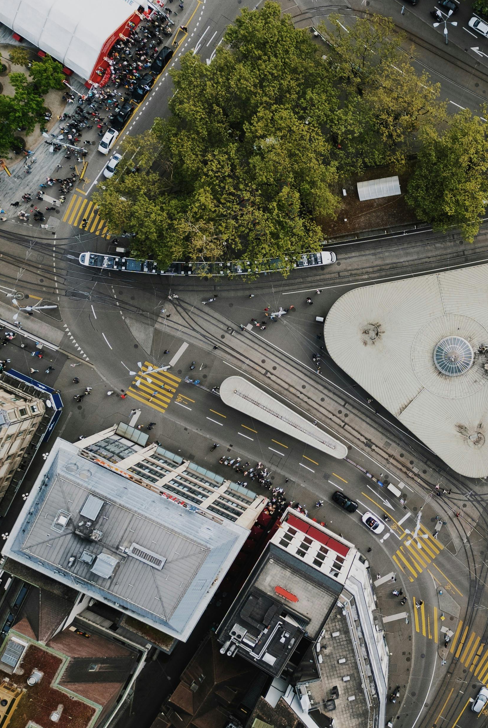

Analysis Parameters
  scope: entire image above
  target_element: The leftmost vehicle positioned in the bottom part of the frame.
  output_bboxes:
[329,488,361,515]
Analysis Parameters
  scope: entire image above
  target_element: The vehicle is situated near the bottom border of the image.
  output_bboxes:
[469,684,488,715]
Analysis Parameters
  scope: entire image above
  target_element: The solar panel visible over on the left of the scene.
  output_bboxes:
[0,639,26,668]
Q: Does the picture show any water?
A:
No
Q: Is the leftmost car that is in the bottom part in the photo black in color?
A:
Yes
